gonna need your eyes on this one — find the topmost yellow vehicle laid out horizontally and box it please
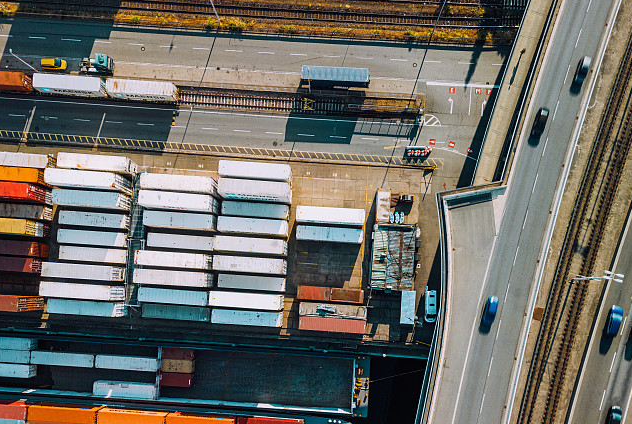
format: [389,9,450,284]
[40,57,67,70]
